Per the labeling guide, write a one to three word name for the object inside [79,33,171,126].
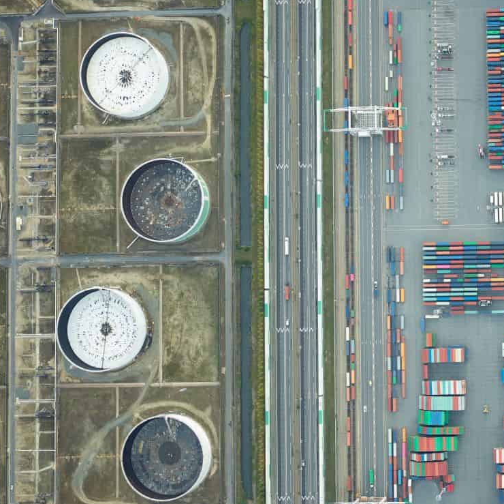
storage tank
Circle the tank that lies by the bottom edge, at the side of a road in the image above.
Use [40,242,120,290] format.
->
[121,406,214,502]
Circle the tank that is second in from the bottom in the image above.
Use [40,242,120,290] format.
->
[56,275,149,371]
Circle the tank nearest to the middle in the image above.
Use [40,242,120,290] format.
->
[121,158,210,243]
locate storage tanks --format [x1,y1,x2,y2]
[79,33,171,126]
[121,158,210,243]
[121,406,214,502]
[56,275,149,371]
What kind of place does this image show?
industrial area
